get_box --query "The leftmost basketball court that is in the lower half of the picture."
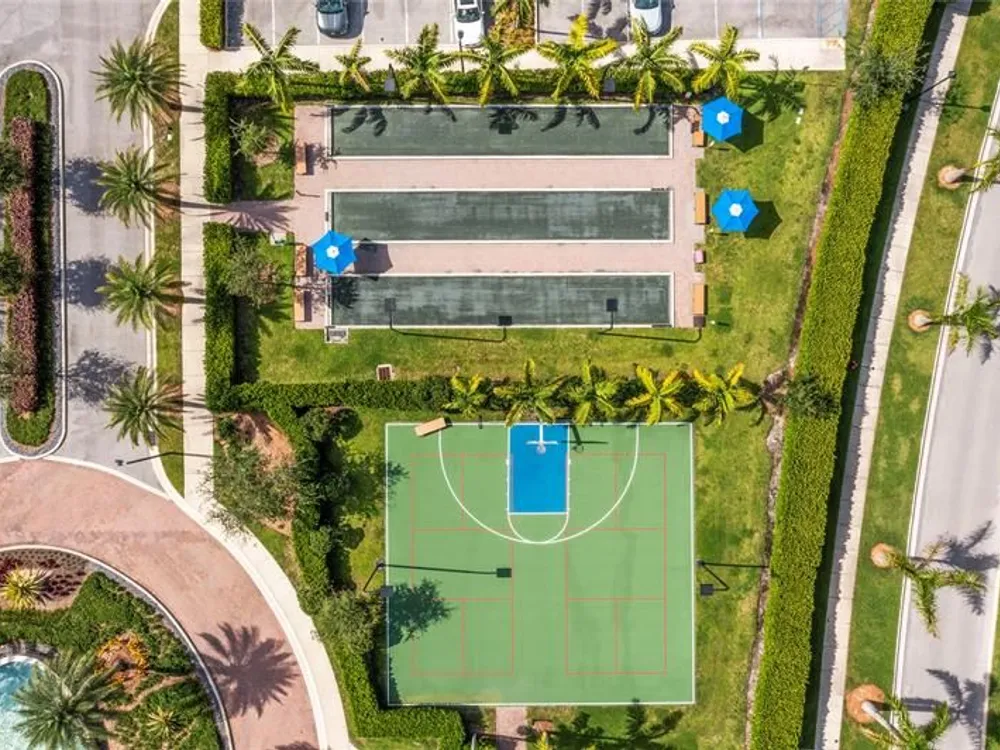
[387,424,693,705]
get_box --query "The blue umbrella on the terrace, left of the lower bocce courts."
[313,230,356,276]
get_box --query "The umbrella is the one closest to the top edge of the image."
[700,98,740,145]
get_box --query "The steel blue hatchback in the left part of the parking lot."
[312,0,350,37]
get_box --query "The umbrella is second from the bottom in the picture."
[711,191,757,232]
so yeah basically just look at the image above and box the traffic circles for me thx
[0,449,329,750]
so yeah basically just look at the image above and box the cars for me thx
[451,0,489,49]
[628,0,665,34]
[312,0,350,37]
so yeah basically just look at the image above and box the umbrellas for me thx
[711,191,757,232]
[700,98,740,145]
[313,230,356,276]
